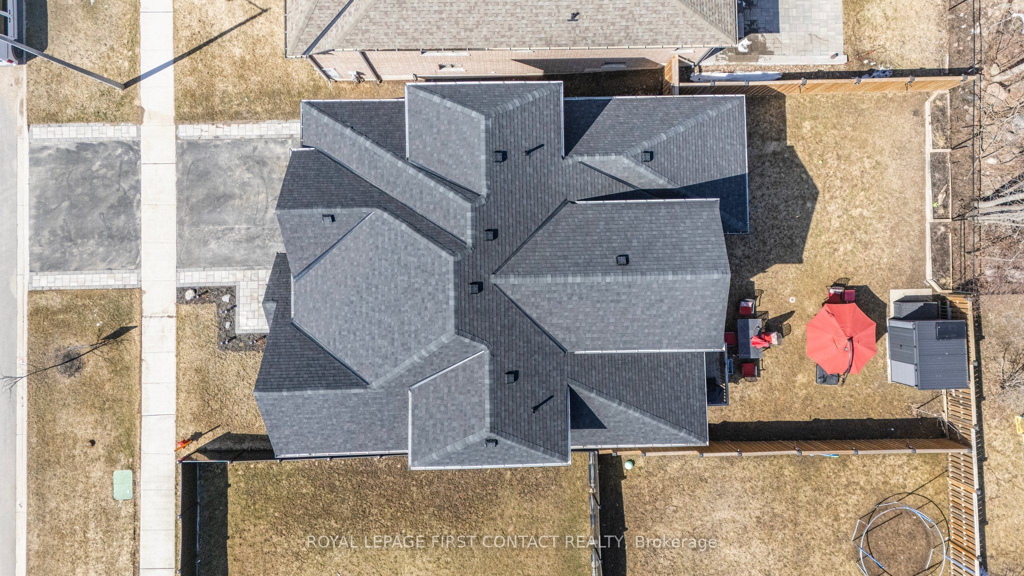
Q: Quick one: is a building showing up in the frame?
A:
Yes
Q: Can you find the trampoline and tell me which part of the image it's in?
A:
bottom right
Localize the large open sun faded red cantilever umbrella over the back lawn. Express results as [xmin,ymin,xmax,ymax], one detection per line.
[805,303,876,385]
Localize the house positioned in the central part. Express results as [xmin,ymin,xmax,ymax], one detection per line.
[253,79,751,472]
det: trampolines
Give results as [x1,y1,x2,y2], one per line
[851,502,978,576]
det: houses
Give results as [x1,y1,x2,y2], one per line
[282,0,741,89]
[253,79,751,472]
